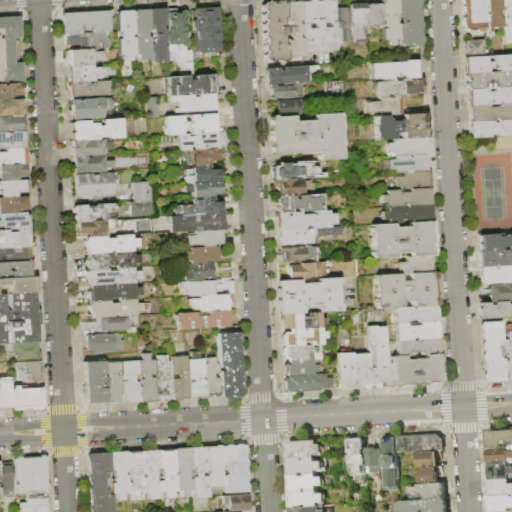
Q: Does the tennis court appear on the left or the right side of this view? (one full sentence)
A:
It is on the right.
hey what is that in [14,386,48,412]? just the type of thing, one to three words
building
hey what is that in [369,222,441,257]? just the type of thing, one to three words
building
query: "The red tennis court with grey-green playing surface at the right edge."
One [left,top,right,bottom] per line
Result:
[474,154,512,230]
